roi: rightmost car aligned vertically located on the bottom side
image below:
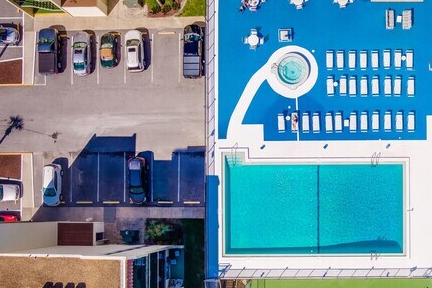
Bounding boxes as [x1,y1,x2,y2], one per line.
[126,157,148,202]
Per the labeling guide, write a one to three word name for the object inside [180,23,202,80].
truck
